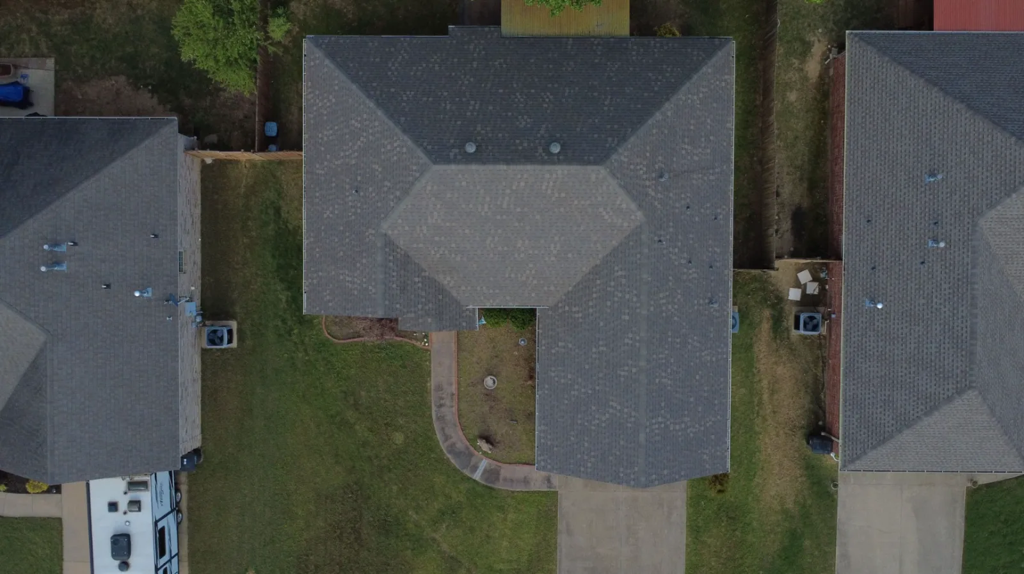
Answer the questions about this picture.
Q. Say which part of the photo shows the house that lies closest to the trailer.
left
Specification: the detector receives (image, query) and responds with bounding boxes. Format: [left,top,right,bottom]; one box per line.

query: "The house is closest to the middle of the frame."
[301,26,735,488]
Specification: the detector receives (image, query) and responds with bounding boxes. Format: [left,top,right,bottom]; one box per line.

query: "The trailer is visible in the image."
[85,470,186,574]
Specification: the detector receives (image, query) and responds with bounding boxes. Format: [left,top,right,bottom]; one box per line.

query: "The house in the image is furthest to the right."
[825,29,1024,474]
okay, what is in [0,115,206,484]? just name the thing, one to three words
house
